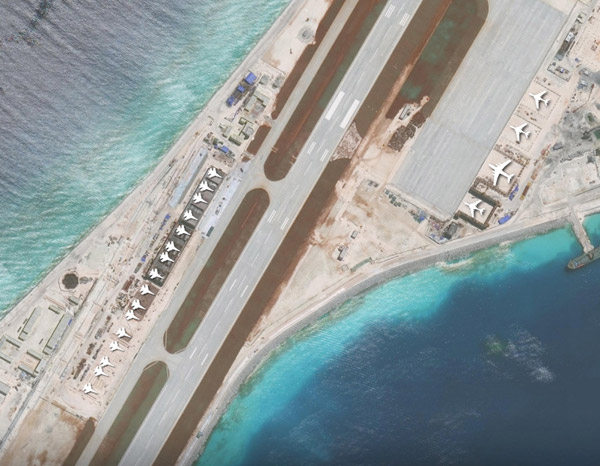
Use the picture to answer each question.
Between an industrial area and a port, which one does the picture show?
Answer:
port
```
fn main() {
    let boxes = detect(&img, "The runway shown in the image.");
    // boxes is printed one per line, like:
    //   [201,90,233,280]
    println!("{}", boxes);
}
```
[118,0,422,466]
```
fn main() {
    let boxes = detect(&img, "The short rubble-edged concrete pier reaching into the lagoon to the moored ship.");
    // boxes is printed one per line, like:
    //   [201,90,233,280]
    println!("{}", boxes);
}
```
[571,216,594,253]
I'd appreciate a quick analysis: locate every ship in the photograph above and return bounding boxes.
[570,248,600,269]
